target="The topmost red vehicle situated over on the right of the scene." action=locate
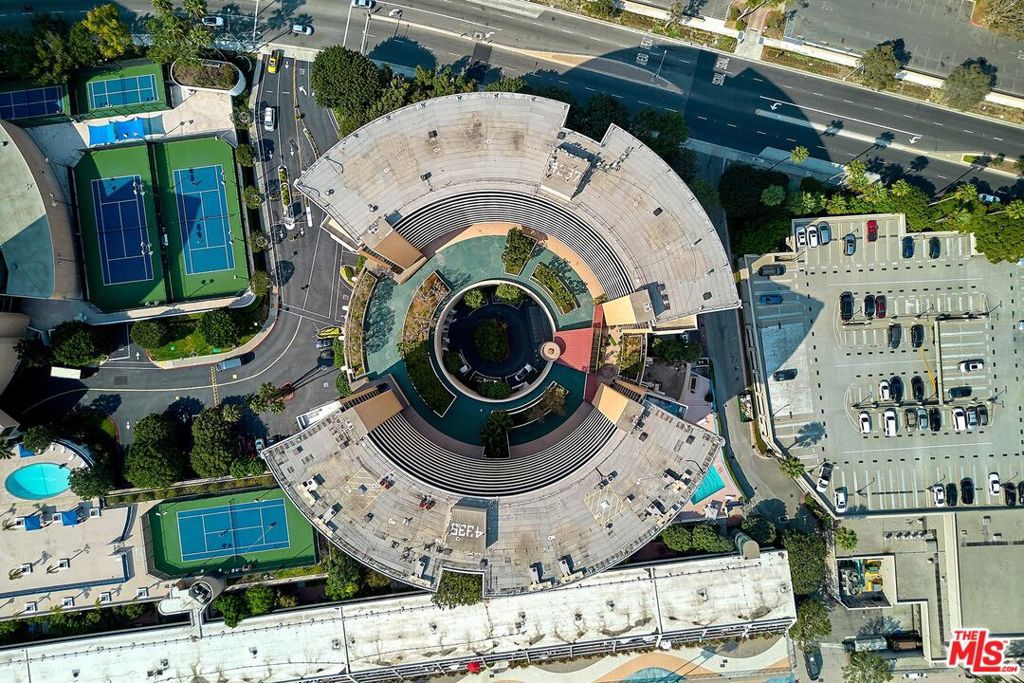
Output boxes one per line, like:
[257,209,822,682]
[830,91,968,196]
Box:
[865,218,878,244]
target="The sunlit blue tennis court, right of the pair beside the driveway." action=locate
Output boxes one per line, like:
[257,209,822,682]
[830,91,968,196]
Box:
[155,136,245,302]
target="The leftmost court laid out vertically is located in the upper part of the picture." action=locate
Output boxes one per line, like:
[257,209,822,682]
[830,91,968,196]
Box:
[74,146,161,311]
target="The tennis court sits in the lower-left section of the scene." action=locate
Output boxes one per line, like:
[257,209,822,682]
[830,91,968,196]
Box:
[148,489,315,579]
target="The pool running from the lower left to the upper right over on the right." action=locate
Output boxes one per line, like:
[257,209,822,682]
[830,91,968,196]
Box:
[689,466,726,506]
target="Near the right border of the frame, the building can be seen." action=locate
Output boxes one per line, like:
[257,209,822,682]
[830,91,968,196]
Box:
[827,509,1024,661]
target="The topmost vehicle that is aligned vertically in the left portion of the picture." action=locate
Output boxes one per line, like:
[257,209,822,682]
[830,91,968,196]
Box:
[266,49,279,78]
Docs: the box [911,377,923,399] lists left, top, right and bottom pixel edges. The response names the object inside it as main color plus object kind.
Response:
black vehicle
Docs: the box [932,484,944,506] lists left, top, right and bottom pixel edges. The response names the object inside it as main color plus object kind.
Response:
white vehicle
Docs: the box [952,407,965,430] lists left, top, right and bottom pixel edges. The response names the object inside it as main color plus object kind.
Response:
white vehicle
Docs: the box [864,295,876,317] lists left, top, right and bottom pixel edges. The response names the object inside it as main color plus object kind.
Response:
black vehicle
